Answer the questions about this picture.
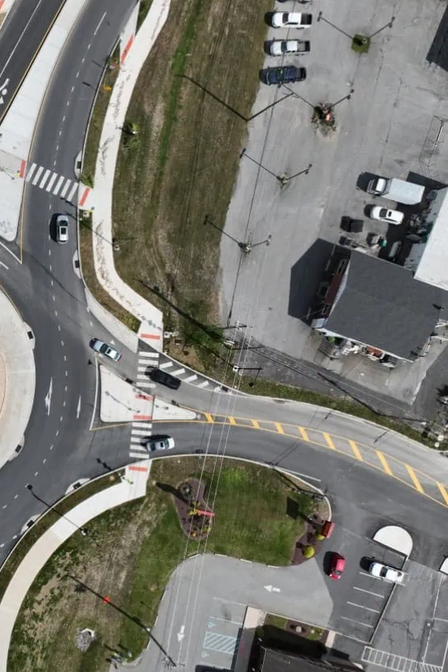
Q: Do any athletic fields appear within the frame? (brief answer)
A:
No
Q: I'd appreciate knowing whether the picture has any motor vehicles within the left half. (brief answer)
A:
Yes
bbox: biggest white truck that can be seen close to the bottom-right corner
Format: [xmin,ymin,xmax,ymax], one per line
[367,562,408,585]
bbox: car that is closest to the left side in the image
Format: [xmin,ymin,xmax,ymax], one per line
[55,213,70,244]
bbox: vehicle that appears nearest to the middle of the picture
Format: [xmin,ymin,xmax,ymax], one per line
[146,366,183,391]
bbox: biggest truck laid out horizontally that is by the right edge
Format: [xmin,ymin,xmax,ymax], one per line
[368,175,428,202]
